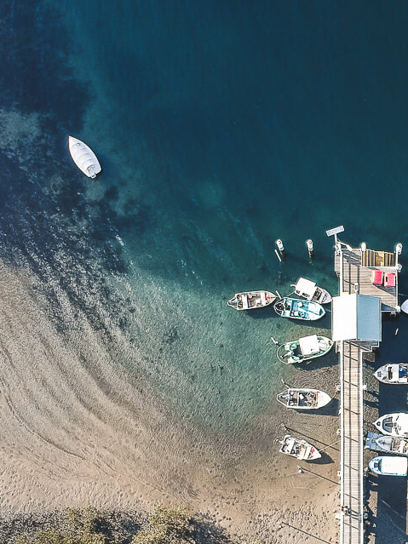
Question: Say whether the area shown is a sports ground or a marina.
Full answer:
It's a marina.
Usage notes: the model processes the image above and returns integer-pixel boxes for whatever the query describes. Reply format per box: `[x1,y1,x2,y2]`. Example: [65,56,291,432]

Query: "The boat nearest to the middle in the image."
[224,291,278,311]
